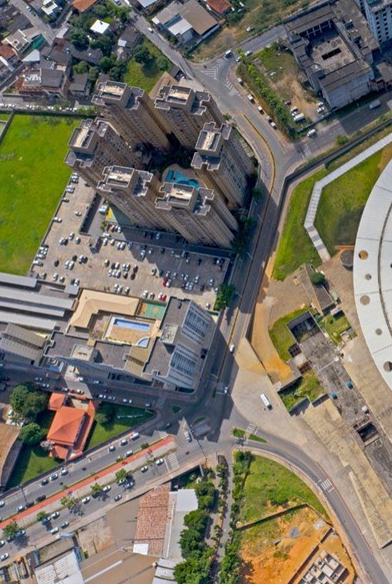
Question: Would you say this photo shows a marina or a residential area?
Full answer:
The area seen from above is a residential area.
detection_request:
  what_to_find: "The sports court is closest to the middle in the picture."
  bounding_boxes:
[139,302,170,321]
